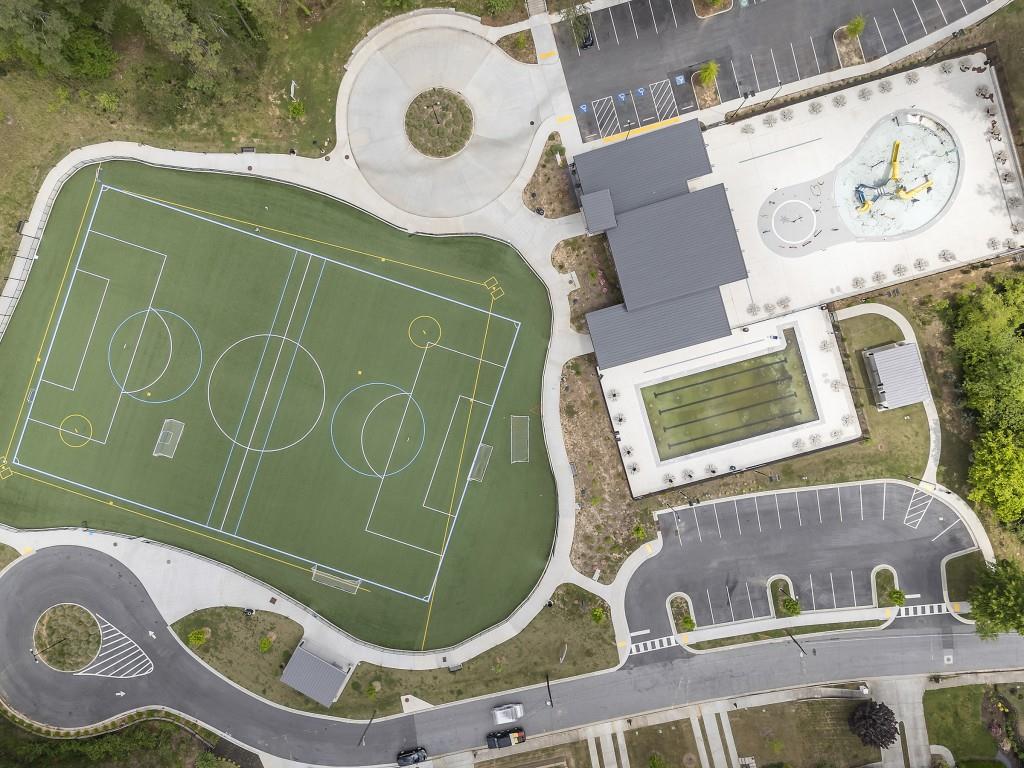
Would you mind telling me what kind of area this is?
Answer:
sports ground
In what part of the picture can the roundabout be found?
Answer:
bottom left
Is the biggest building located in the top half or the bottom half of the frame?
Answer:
top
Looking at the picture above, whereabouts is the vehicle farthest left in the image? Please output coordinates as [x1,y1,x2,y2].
[396,747,426,768]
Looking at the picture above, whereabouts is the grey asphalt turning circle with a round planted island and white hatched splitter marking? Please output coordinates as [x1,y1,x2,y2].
[0,545,413,766]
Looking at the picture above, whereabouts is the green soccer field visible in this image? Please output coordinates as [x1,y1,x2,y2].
[0,158,559,652]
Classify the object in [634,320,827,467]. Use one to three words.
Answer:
swimming pool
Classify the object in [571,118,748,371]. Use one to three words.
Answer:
building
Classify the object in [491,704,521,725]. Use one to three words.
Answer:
car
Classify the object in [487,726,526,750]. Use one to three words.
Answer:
truck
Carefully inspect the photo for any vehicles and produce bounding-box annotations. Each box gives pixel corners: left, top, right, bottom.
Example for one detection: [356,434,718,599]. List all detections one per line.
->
[396,747,426,768]
[487,726,526,750]
[491,704,521,725]
[577,14,596,46]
